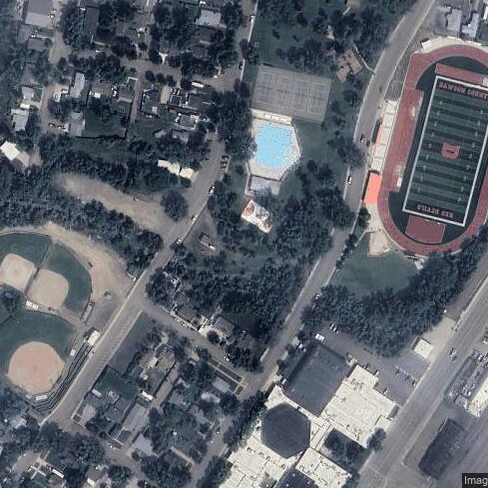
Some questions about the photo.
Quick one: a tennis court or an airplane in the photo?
tennis court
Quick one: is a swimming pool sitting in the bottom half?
No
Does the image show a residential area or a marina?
residential area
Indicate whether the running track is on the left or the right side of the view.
right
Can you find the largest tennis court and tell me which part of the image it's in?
top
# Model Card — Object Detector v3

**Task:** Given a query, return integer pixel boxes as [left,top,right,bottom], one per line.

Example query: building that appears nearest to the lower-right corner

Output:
[420,419,468,479]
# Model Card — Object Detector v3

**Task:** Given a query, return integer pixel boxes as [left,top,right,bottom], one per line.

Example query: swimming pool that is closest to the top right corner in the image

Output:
[249,119,301,181]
